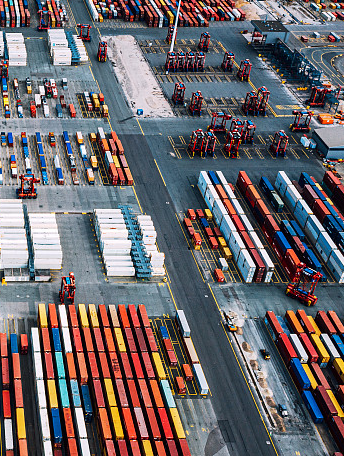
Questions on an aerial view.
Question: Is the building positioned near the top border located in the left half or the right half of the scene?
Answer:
right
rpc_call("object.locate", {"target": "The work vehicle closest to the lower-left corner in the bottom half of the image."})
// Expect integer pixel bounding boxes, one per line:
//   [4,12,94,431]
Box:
[58,265,77,305]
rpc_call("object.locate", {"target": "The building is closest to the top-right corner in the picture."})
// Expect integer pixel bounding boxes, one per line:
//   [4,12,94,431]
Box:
[250,21,289,42]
